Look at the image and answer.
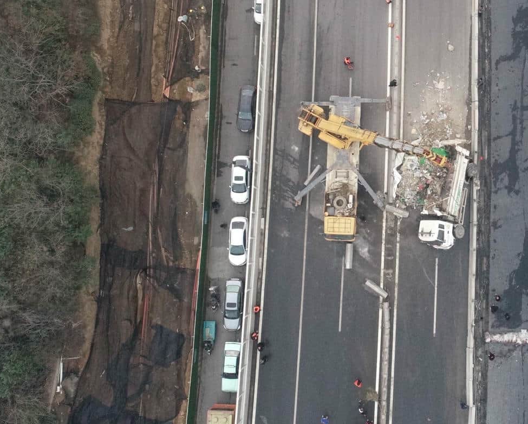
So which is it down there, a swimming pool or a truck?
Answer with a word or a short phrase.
truck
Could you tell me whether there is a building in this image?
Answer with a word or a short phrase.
No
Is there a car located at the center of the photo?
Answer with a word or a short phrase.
Yes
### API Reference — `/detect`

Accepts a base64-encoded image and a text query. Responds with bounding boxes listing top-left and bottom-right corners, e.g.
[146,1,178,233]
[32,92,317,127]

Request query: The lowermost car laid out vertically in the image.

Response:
[216,342,240,396]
